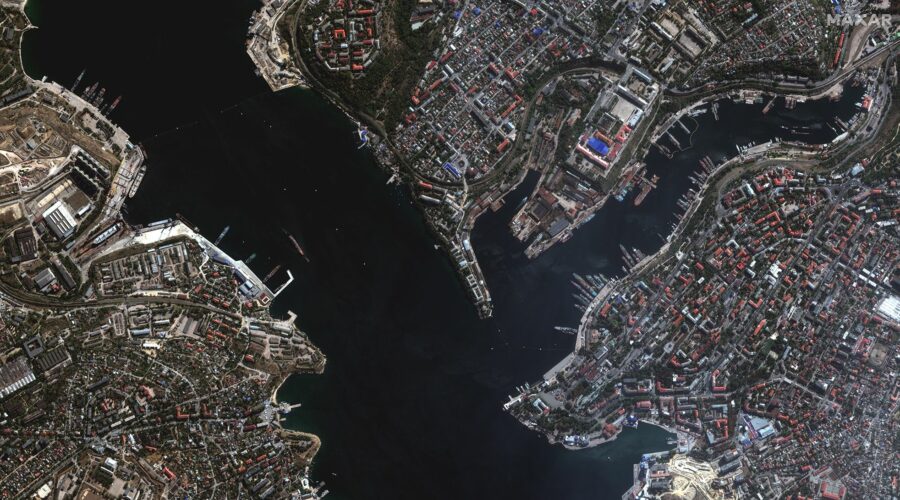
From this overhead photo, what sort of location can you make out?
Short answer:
port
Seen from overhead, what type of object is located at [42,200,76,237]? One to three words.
building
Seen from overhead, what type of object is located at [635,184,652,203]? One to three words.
ship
